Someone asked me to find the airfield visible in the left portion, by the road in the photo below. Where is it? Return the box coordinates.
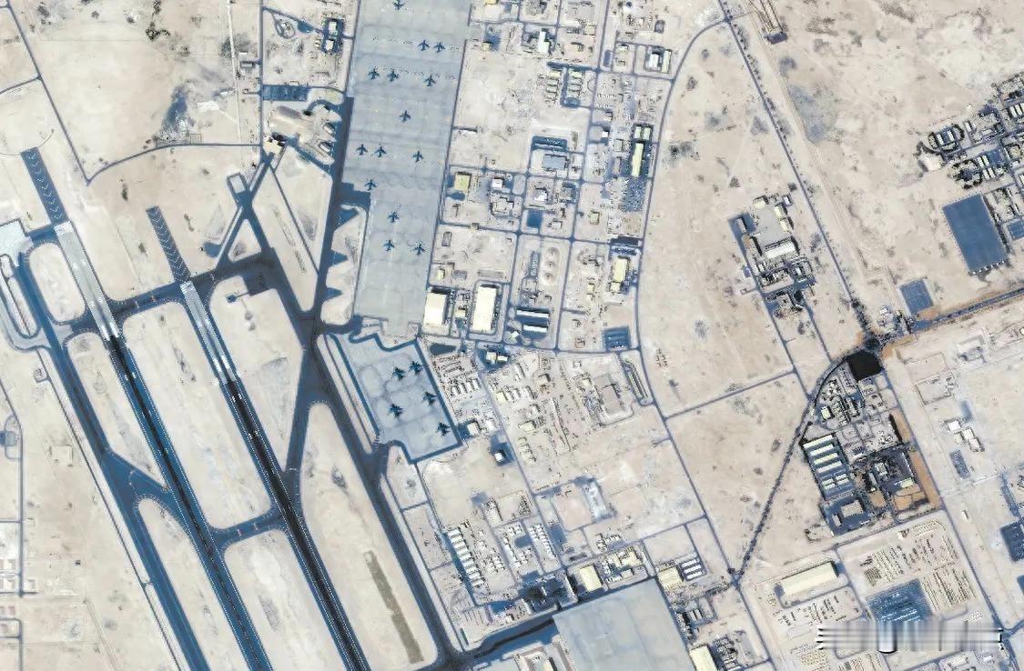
[0,0,698,671]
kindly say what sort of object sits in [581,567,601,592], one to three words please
hangar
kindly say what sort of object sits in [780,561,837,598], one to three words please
building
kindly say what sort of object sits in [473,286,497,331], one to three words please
hangar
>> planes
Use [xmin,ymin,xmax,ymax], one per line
[386,70,399,82]
[433,41,445,53]
[392,366,406,381]
[356,143,368,156]
[437,423,450,437]
[368,67,379,80]
[423,391,437,406]
[364,180,376,192]
[389,404,403,419]
[412,151,424,162]
[391,0,403,10]
[423,75,435,87]
[418,39,430,51]
[387,212,399,224]
[383,239,394,252]
[413,244,425,255]
[409,361,423,376]
[374,145,386,158]
[399,111,411,122]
